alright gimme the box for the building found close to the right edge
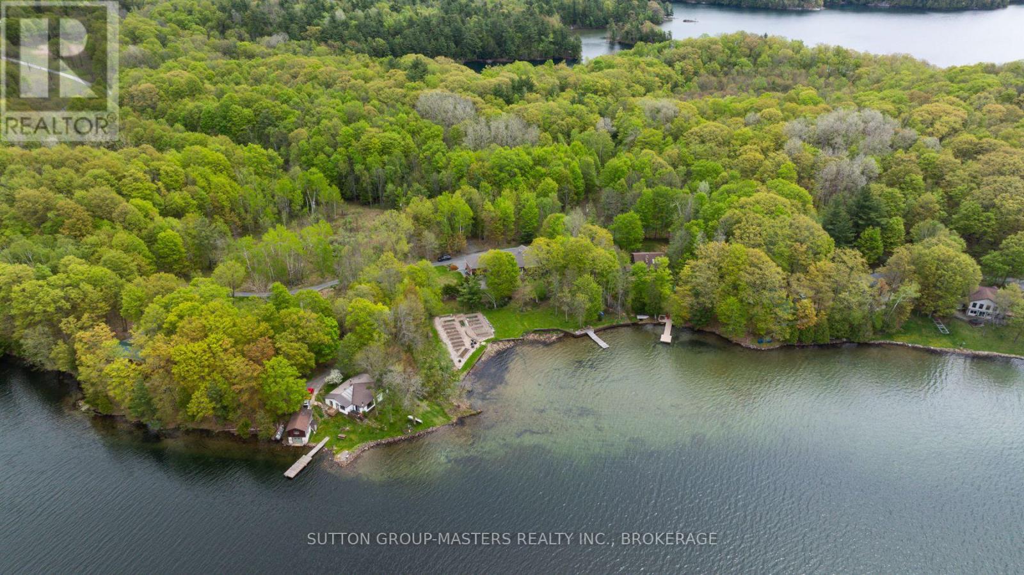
[962,284,1003,321]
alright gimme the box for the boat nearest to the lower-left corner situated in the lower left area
[273,421,285,441]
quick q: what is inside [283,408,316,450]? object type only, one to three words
building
